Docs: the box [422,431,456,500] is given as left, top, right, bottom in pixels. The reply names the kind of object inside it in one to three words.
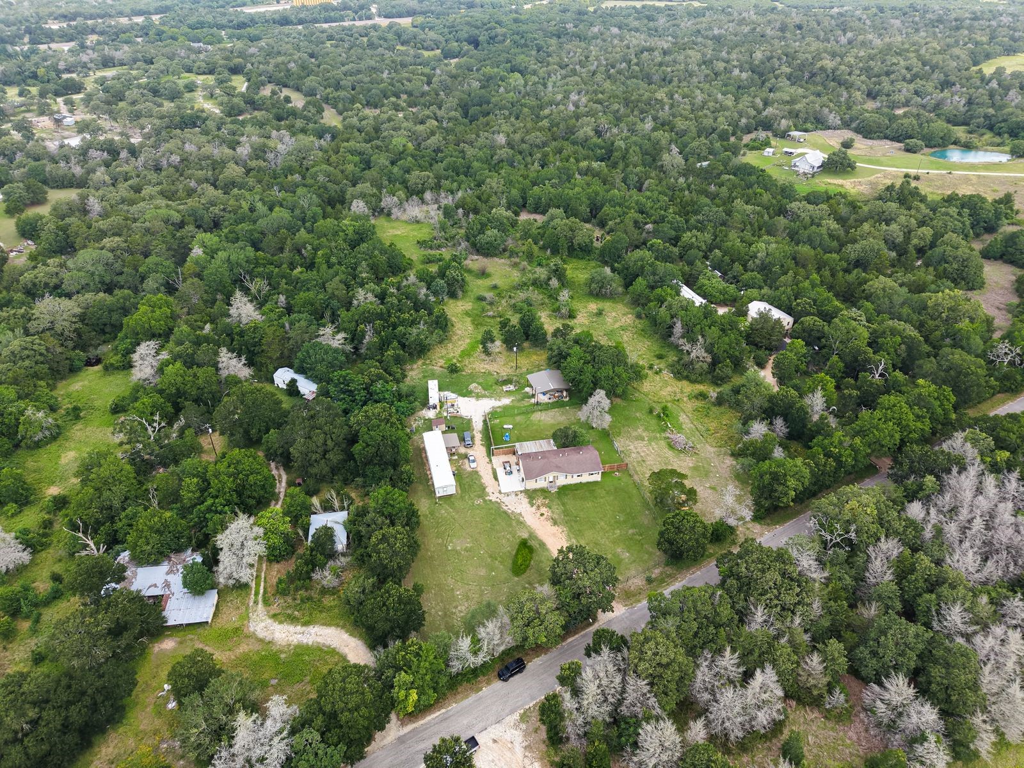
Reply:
house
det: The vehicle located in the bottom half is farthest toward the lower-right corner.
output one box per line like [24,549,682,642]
[497,657,527,682]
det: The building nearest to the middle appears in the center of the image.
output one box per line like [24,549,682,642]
[526,370,570,403]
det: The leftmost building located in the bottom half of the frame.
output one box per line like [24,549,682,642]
[104,548,221,634]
